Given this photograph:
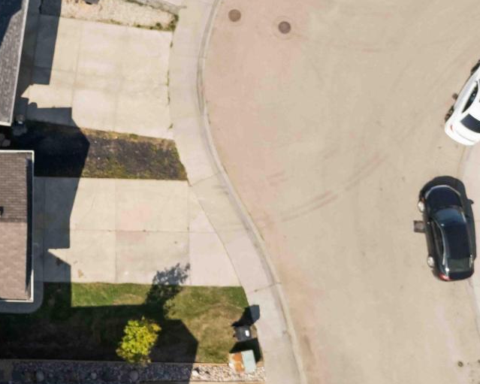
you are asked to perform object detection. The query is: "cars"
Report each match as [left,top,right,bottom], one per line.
[418,186,473,282]
[441,61,480,146]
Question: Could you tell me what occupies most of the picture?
paved ground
